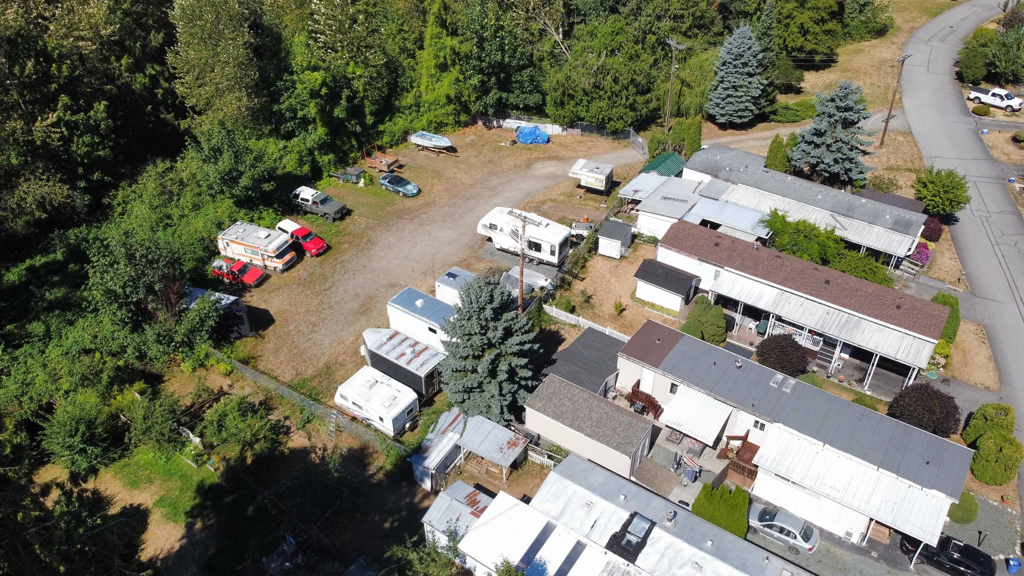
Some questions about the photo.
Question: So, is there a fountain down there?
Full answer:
No, I find no fountain anywhere in the image.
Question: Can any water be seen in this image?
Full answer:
No, no water is visible.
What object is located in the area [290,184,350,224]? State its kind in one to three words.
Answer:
truck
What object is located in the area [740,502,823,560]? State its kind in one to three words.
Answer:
car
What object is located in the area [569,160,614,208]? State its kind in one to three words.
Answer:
camper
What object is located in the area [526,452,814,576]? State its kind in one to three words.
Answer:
house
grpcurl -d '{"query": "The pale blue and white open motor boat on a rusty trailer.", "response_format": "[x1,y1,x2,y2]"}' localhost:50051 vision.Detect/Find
[407,132,451,149]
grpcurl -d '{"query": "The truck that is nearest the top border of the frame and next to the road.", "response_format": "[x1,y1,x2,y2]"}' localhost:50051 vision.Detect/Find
[965,87,1024,113]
